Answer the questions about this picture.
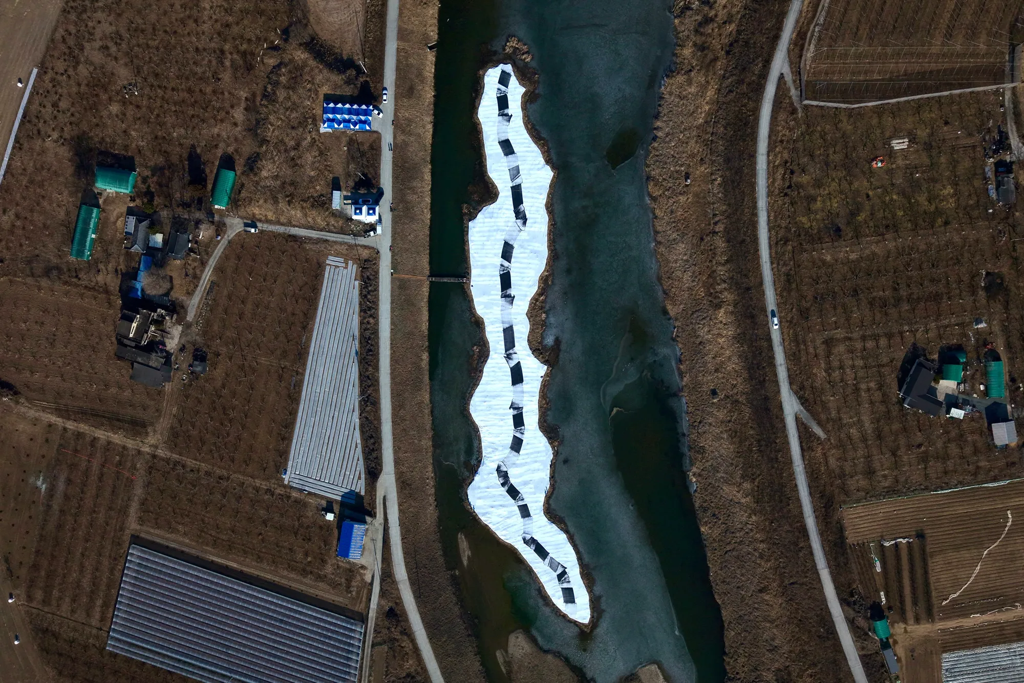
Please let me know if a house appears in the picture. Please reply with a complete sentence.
Yes, this view includes a house.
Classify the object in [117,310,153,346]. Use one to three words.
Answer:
house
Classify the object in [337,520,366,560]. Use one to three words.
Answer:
building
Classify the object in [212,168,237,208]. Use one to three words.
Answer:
house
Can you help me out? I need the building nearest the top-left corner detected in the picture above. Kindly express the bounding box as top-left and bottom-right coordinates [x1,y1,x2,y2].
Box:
[92,168,138,194]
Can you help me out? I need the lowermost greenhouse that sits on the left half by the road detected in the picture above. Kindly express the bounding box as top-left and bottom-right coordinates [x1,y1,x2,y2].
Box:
[108,543,366,683]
